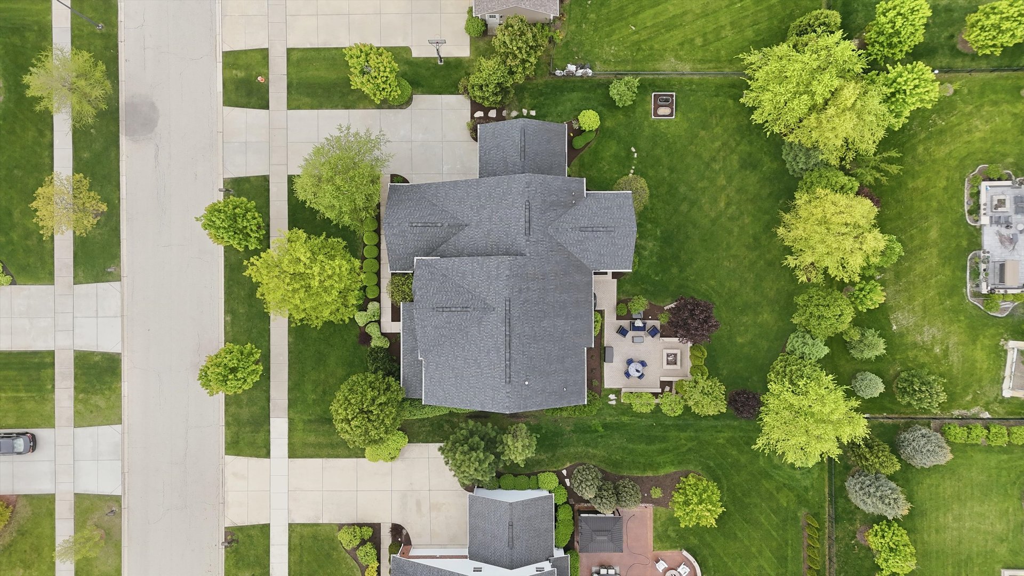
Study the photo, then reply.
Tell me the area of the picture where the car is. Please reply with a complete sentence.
The car is in the bottom left part of the image.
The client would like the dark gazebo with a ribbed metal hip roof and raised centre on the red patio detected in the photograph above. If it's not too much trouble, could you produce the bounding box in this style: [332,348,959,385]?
[577,510,623,554]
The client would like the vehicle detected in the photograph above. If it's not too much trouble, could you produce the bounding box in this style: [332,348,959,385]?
[0,431,36,456]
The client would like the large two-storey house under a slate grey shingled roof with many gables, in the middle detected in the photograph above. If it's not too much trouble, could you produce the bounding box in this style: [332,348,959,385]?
[383,117,637,414]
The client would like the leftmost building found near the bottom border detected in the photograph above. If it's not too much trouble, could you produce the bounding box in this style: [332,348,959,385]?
[389,488,571,576]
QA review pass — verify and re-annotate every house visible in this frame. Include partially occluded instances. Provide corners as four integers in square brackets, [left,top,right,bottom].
[471,0,560,24]
[389,488,571,576]
[383,117,637,414]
